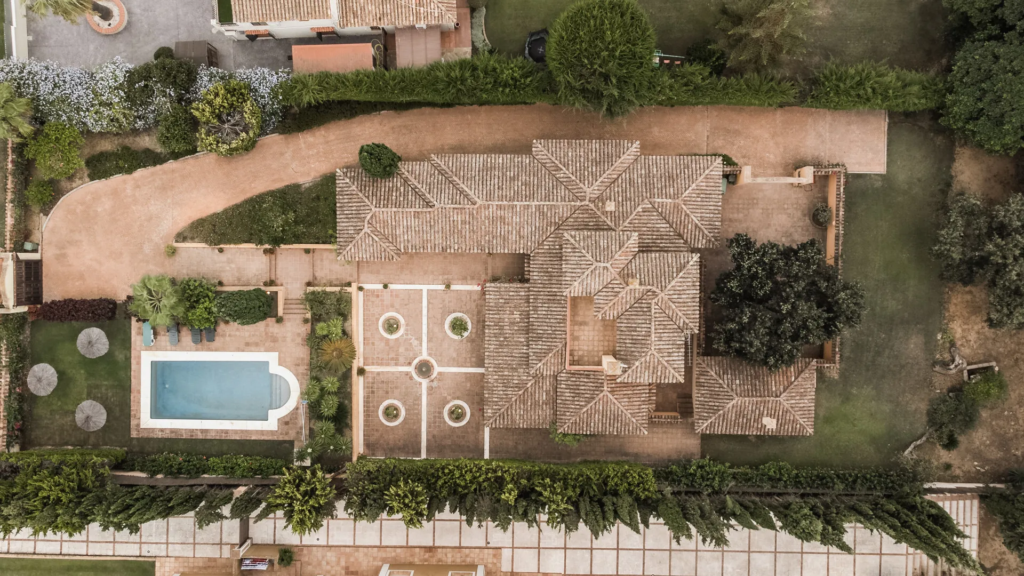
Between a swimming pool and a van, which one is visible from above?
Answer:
swimming pool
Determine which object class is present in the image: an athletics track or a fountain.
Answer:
fountain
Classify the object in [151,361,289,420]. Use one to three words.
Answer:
swimming pool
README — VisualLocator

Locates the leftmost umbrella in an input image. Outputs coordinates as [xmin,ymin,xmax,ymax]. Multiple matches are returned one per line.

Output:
[29,363,66,394]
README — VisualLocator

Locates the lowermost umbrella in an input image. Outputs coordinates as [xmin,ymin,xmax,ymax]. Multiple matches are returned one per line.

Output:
[77,399,112,431]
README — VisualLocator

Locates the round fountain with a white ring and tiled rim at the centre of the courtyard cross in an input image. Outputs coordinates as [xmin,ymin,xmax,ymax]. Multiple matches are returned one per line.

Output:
[411,356,438,383]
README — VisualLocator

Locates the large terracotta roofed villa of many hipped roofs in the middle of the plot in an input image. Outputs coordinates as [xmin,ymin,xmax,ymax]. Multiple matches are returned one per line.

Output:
[335,138,724,435]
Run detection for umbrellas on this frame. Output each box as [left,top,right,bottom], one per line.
[78,325,114,359]
[29,363,66,394]
[77,399,112,431]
